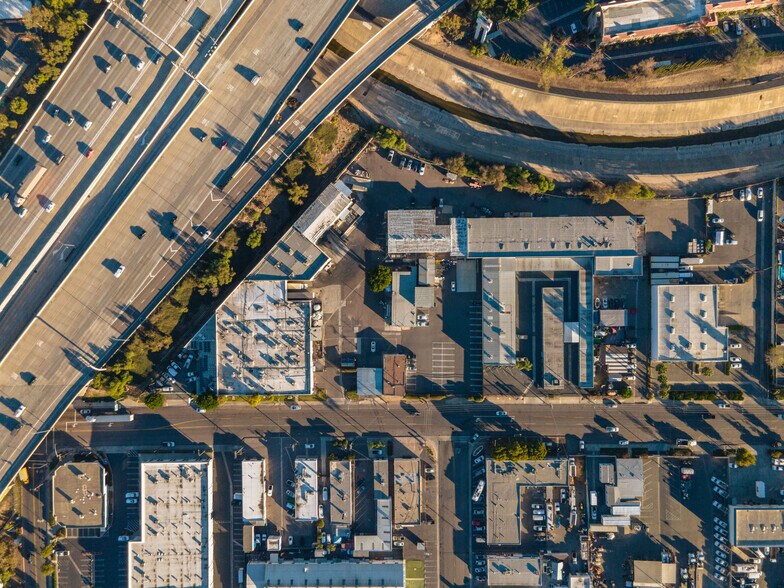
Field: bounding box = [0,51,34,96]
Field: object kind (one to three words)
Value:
house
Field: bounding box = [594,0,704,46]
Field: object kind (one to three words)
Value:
building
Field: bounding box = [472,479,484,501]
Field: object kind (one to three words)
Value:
vehicle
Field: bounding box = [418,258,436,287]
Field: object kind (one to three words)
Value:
shed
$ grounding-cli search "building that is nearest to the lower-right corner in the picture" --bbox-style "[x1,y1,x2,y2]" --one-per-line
[726,503,784,547]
